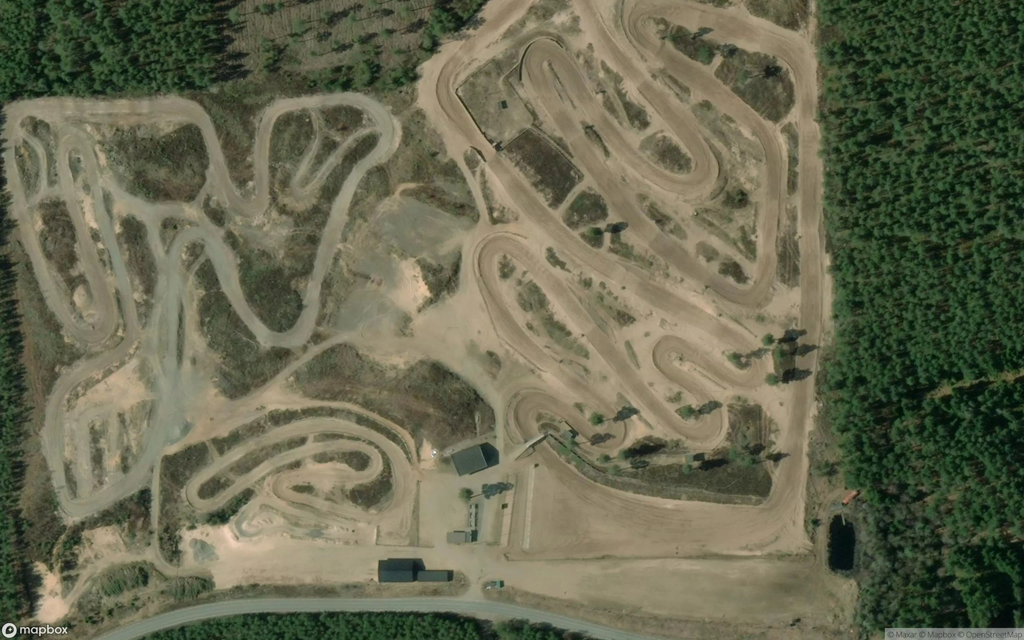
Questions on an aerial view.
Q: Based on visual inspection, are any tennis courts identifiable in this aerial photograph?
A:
No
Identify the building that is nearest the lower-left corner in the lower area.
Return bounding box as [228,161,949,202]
[378,560,413,582]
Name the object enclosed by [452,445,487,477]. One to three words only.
building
